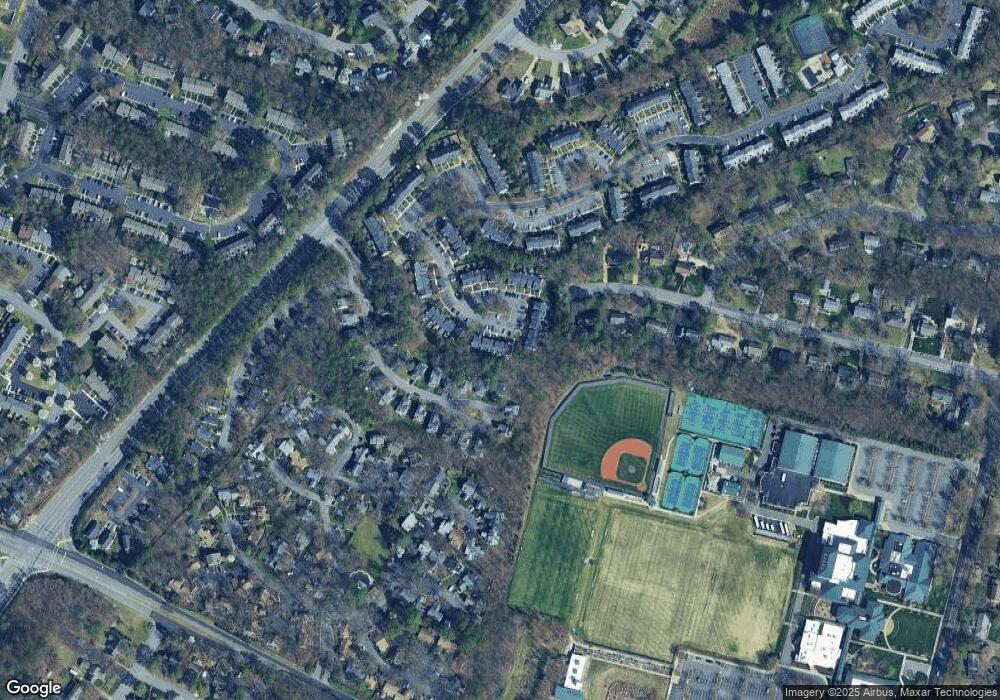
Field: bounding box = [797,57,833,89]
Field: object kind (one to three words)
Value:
swimming pool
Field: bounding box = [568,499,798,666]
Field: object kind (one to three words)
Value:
sports field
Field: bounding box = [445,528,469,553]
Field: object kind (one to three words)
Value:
house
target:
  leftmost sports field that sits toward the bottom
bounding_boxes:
[509,480,603,622]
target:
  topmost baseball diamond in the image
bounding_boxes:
[543,377,671,497]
